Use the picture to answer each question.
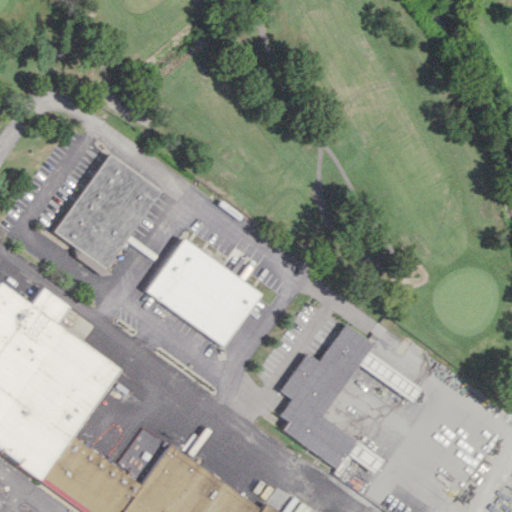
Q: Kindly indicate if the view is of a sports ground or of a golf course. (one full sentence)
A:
What you see here is a golf course.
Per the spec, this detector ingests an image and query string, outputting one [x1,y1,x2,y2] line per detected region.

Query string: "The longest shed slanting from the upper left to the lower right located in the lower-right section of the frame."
[362,352,425,403]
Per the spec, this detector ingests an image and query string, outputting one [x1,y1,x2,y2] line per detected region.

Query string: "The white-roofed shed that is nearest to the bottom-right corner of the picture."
[350,443,384,474]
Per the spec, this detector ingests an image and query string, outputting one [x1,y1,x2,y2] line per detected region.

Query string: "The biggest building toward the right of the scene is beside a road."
[281,324,373,470]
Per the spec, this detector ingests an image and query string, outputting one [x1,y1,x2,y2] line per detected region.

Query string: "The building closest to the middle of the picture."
[146,241,262,347]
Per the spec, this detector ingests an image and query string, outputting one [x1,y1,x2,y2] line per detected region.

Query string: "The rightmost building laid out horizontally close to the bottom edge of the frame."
[124,446,270,512]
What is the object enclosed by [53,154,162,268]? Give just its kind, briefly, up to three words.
building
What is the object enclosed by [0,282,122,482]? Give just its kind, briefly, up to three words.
building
